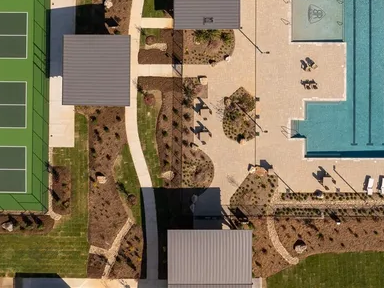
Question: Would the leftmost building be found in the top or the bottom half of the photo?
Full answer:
The leftmost building is in the top half of the image.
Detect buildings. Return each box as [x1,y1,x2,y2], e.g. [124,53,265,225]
[174,0,241,29]
[63,35,131,106]
[168,229,253,288]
